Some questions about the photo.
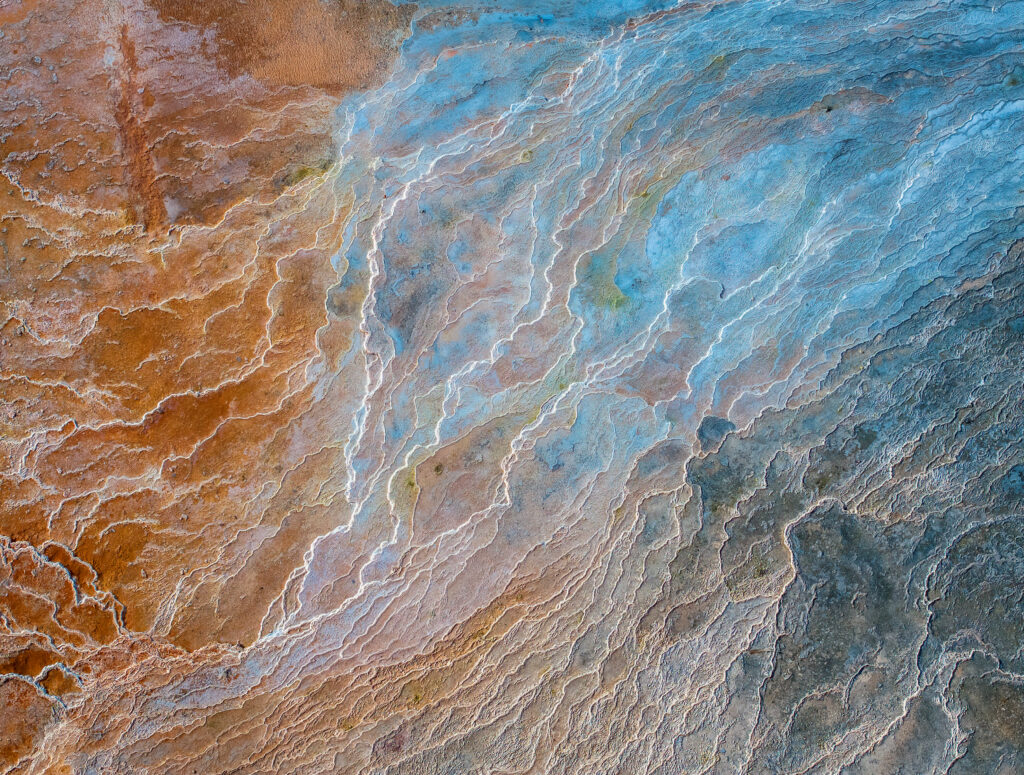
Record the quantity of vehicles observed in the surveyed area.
zero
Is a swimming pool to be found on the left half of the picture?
No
